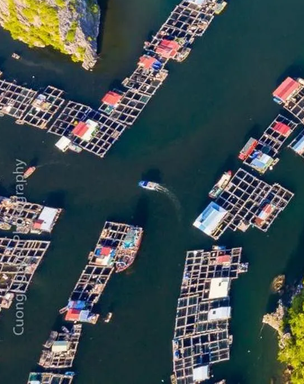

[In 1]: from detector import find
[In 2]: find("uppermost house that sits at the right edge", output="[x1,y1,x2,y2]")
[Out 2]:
[274,75,304,107]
